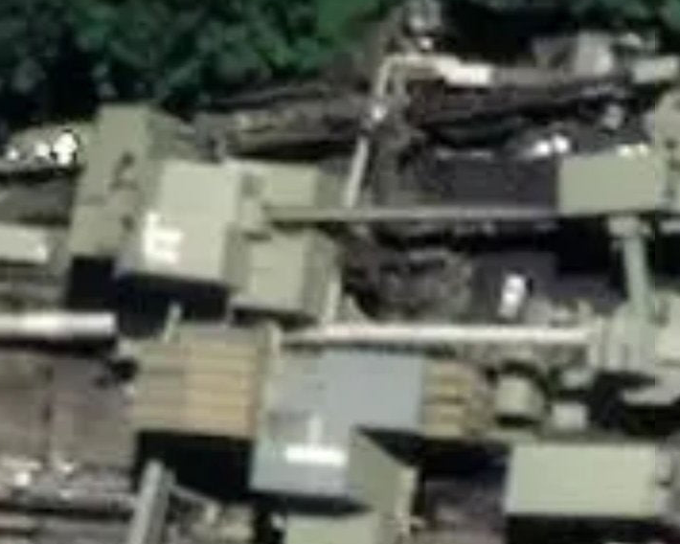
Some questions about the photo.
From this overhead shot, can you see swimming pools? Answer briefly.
No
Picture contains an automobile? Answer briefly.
Yes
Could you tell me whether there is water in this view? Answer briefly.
No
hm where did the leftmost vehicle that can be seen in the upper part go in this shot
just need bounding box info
[5,140,23,172]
